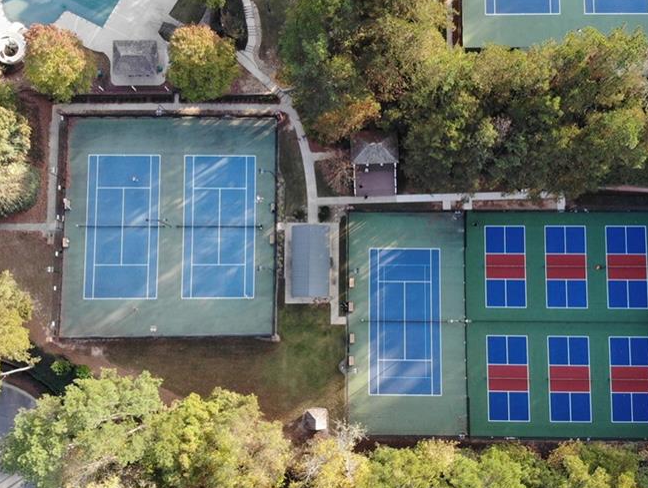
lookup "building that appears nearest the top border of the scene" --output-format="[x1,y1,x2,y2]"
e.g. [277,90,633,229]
[111,40,159,81]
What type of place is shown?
sports ground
